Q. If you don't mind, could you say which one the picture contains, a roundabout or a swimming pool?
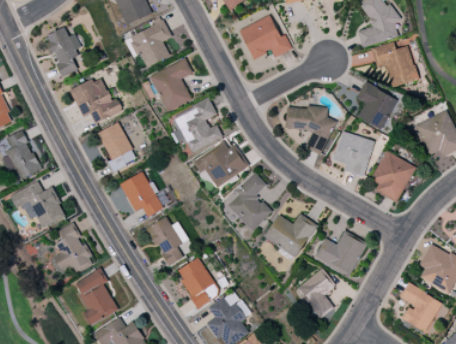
swimming pool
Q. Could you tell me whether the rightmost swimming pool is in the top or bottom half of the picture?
top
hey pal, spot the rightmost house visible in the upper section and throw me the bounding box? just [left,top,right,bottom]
[416,110,456,160]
